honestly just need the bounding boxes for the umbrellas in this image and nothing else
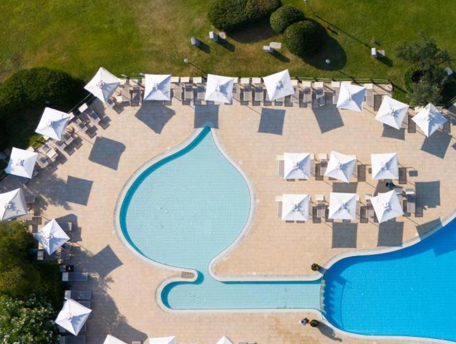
[411,105,448,139]
[34,218,73,256]
[262,69,295,103]
[7,147,43,180]
[38,108,75,142]
[144,75,173,102]
[330,193,357,220]
[282,194,309,221]
[57,298,95,334]
[206,75,235,104]
[215,334,236,344]
[335,81,368,114]
[371,152,399,180]
[284,153,311,180]
[85,67,123,104]
[150,336,178,344]
[370,189,404,223]
[375,95,410,130]
[0,188,32,221]
[324,150,358,184]
[104,335,128,344]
